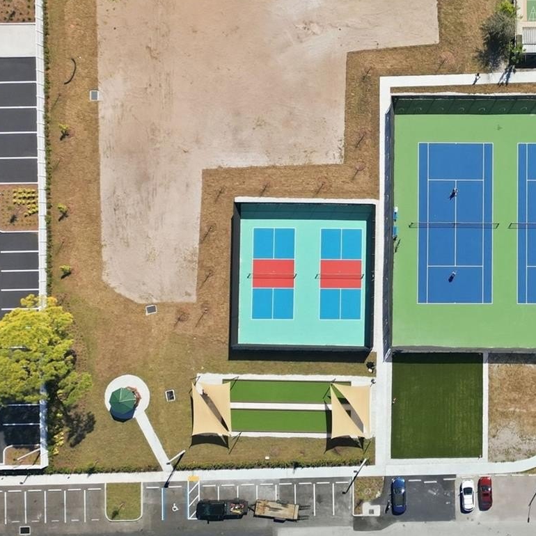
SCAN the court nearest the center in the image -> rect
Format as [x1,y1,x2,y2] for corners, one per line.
[236,199,377,349]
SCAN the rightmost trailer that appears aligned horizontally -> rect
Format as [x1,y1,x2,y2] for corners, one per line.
[248,499,308,519]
